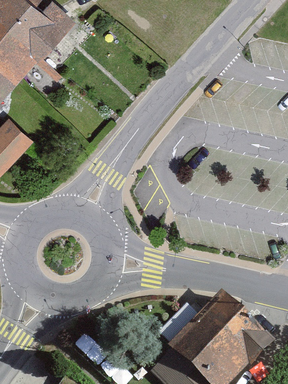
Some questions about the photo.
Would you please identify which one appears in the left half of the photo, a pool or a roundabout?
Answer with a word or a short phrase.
roundabout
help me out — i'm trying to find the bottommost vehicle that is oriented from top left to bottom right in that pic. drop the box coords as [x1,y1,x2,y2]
[256,313,276,333]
